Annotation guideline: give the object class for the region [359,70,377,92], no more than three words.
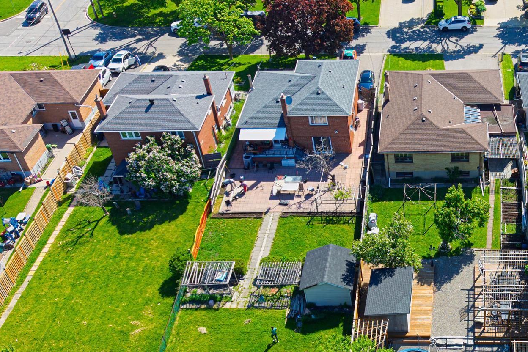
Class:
car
